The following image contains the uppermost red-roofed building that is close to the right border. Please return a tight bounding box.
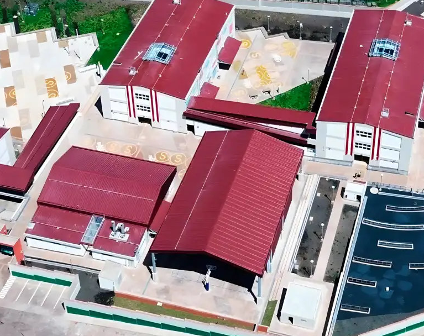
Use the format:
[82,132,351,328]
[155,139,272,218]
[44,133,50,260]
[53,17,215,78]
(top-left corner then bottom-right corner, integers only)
[314,9,424,175]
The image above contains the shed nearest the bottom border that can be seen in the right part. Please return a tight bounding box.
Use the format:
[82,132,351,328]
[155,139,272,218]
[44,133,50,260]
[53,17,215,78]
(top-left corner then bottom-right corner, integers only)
[276,282,326,334]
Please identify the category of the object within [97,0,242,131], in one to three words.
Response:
building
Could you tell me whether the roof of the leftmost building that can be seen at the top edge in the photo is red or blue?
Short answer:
red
